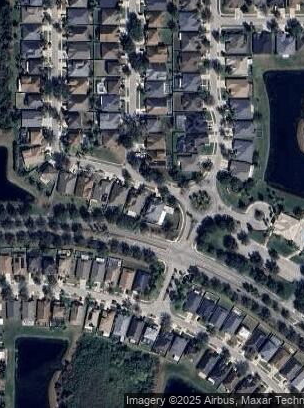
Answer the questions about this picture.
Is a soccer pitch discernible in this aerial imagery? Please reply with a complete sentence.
No, no soccer pitch can be seen from above.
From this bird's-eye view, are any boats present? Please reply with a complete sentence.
No, the picture doesn't show any boat.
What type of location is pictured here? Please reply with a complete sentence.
What you see here is a residential area.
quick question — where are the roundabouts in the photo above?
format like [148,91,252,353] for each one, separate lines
[180,180,221,220]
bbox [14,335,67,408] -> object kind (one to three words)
pond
